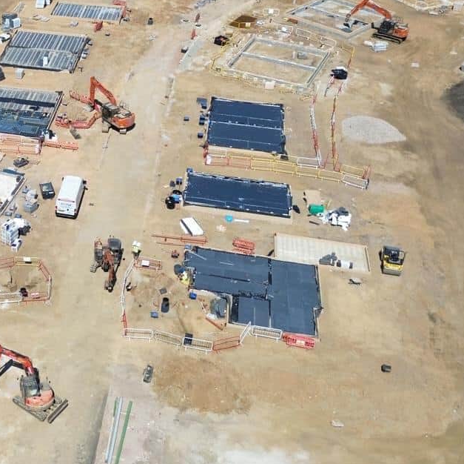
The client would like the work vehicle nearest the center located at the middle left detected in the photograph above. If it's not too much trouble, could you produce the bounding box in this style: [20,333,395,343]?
[93,243,125,292]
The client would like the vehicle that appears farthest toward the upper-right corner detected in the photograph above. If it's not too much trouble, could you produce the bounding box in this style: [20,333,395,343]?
[339,0,411,46]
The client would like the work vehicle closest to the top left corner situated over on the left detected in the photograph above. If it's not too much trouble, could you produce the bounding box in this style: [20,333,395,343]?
[87,69,135,132]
